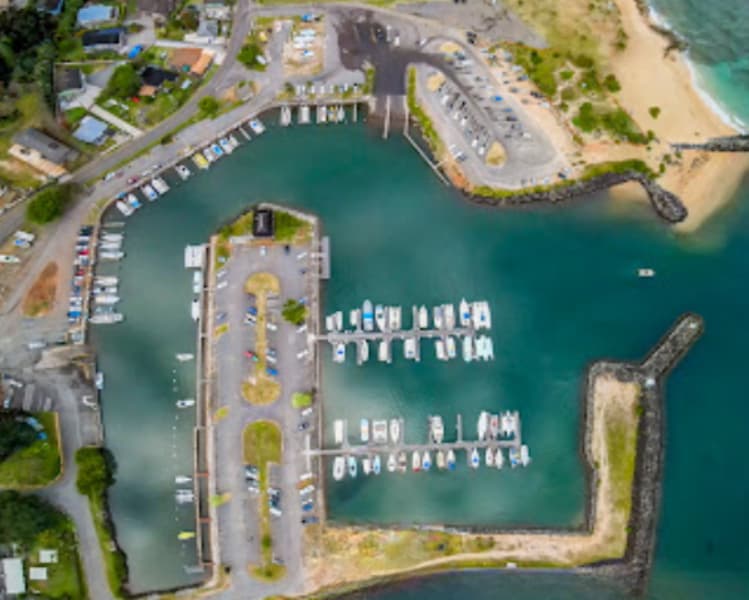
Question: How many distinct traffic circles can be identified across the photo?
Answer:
0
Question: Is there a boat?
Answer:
Yes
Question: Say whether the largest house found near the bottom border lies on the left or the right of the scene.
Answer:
left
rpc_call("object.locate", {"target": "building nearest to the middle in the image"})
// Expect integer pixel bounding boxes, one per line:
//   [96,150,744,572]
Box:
[253,209,274,236]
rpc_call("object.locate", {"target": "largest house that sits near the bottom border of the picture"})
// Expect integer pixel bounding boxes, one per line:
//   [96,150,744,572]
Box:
[2,555,28,596]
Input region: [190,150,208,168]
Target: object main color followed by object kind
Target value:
yellow boat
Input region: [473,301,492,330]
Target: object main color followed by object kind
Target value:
white boat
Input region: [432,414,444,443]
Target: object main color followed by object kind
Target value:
white boat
